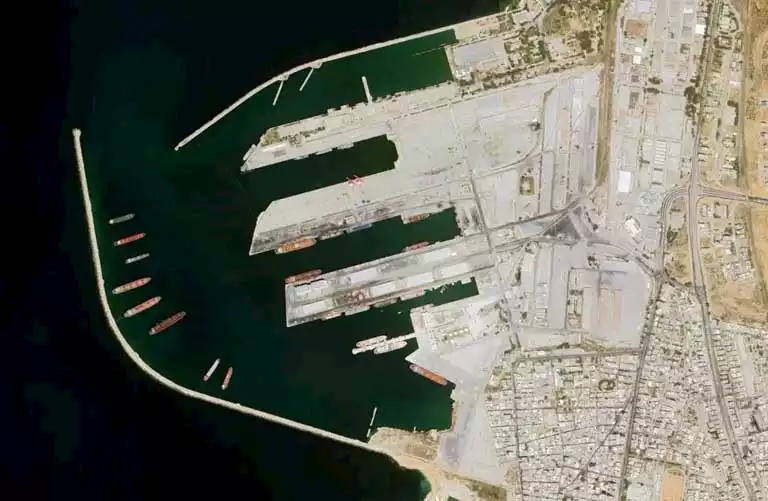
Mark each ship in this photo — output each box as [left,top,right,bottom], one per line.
[320,232,344,240]
[373,342,407,355]
[412,304,433,312]
[284,269,321,283]
[112,277,152,293]
[400,291,426,301]
[123,296,162,317]
[344,307,370,316]
[148,311,186,335]
[275,240,317,255]
[114,233,146,244]
[405,242,430,252]
[110,214,135,223]
[337,144,354,152]
[204,359,219,380]
[403,213,430,223]
[346,224,372,233]
[410,364,447,385]
[356,335,387,346]
[125,254,149,262]
[374,299,398,308]
[323,314,342,322]
[222,368,232,389]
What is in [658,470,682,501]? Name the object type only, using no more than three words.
sports field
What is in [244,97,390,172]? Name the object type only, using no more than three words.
pier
